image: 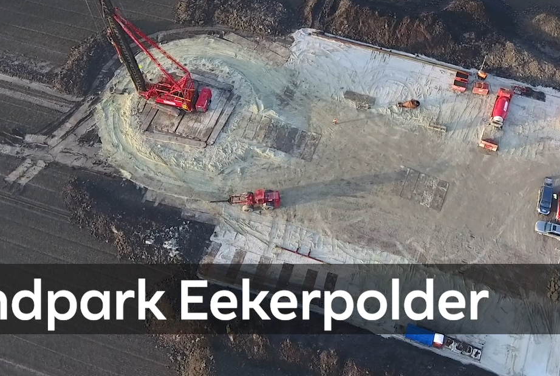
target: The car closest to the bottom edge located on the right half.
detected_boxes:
[534,224,560,246]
